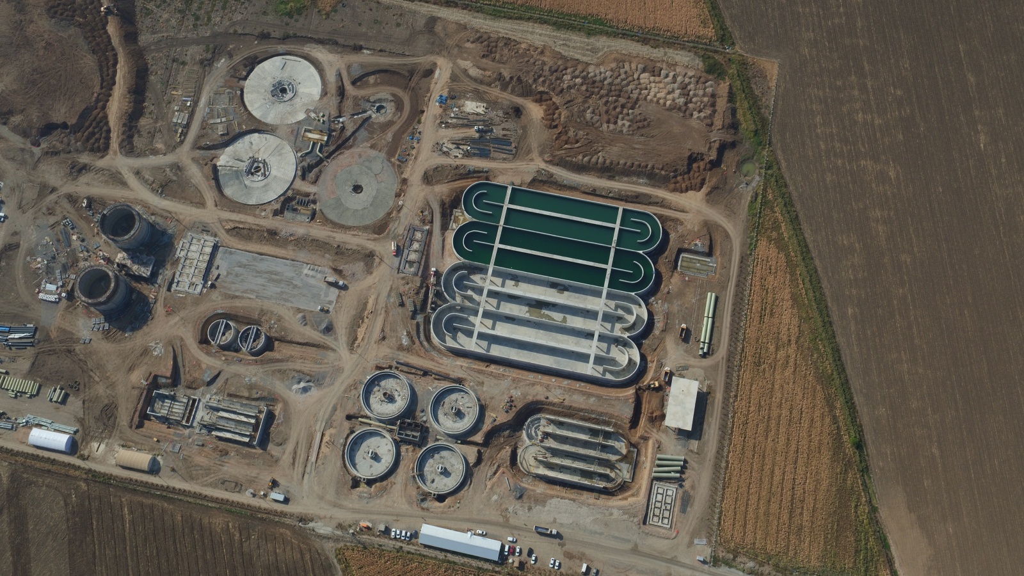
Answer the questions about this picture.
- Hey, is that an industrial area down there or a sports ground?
industrial area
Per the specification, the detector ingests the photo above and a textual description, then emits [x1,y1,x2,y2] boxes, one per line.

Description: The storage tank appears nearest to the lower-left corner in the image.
[146,390,202,426]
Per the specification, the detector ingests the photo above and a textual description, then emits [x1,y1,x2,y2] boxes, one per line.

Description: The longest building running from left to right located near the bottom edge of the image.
[419,521,502,561]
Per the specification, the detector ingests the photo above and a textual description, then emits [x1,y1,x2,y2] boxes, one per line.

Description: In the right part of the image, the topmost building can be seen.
[662,376,699,441]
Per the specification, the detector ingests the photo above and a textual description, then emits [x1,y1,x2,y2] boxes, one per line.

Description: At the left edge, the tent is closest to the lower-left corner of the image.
[23,427,73,456]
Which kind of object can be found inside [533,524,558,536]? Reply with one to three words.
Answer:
vehicle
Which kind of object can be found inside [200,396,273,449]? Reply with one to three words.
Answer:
building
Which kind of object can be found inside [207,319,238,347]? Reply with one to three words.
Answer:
storage tank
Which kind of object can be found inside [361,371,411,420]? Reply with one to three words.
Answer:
storage tank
